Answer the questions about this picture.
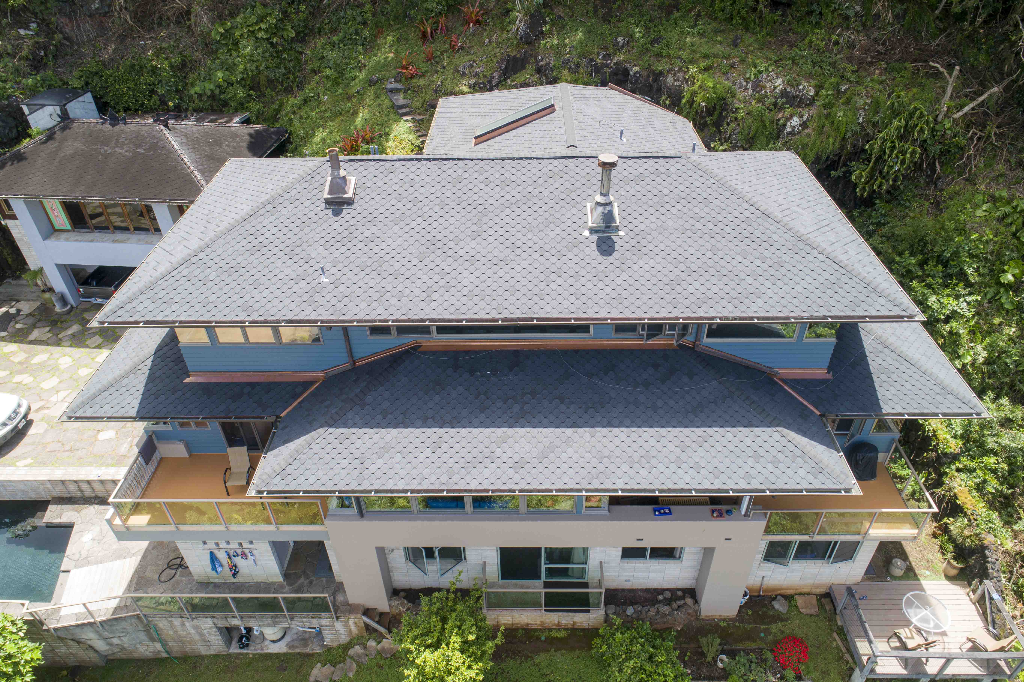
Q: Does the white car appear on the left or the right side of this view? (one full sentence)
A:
It is on the left.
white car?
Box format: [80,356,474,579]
[0,388,42,447]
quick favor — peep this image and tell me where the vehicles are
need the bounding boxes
[74,268,137,300]
[0,388,42,447]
